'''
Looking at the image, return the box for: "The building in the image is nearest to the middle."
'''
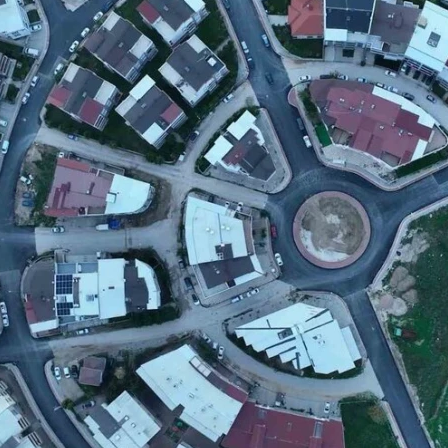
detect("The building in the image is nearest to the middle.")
[184,195,264,298]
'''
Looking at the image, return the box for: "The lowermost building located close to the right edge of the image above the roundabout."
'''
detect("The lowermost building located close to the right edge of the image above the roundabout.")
[310,79,434,168]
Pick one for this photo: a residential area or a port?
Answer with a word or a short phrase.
residential area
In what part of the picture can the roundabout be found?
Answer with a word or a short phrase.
right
